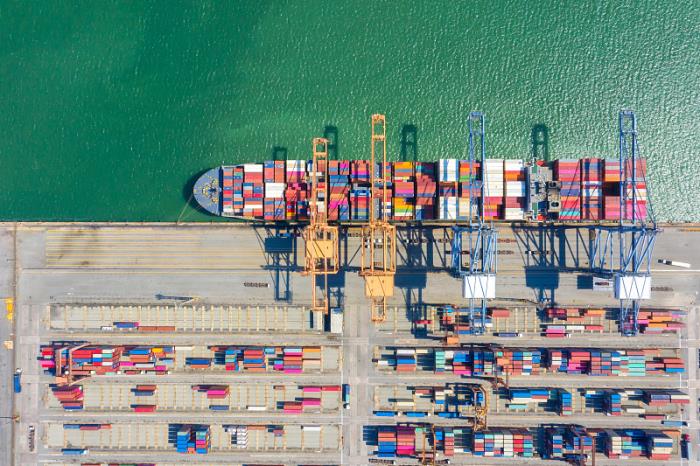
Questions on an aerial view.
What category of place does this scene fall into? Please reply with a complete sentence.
This image shows a port.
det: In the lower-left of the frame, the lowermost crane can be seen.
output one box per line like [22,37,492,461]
[57,342,91,388]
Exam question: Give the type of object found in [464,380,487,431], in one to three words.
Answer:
container crane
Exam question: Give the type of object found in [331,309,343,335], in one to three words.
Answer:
building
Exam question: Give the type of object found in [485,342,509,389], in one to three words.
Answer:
container crane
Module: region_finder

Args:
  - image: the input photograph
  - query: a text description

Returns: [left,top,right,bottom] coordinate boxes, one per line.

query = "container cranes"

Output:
[416,420,436,466]
[464,380,487,431]
[355,115,397,321]
[485,342,509,389]
[566,420,596,466]
[57,342,91,388]
[304,138,344,314]
[438,300,459,346]
[564,109,656,335]
[438,111,501,334]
